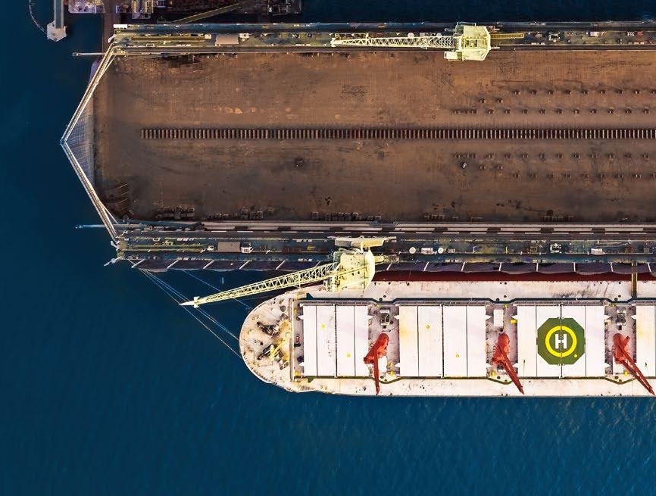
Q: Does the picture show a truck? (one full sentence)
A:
No, there isn't any truck down there.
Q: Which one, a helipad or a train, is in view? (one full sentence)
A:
The image shows a helipad.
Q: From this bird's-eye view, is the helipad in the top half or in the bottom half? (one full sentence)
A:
The helipad is in the bottom half of the image.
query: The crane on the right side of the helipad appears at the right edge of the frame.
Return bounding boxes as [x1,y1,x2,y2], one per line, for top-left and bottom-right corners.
[613,332,656,395]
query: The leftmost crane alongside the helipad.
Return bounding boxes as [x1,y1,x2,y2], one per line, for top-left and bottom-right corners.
[493,332,526,394]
